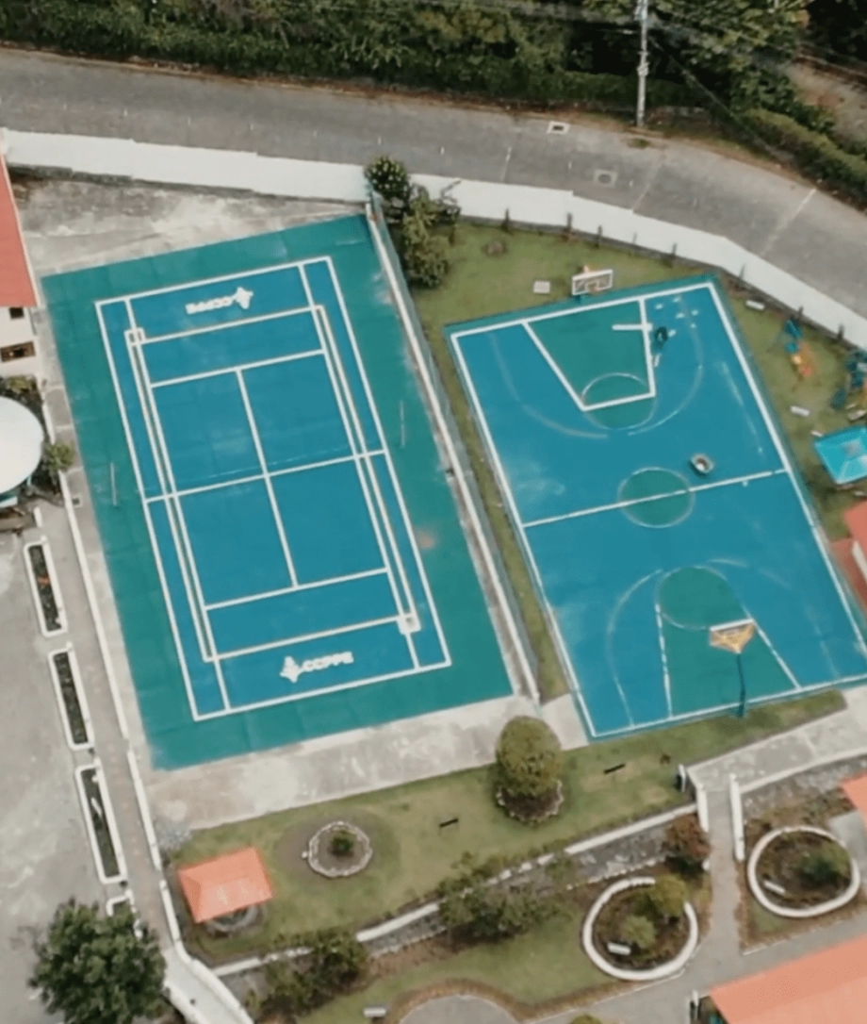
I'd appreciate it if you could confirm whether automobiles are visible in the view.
No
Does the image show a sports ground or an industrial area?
sports ground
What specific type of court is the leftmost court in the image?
tennis court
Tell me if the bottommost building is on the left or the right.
right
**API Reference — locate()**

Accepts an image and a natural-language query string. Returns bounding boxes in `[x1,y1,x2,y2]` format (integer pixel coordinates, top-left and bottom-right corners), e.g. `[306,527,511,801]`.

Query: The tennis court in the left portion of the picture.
[43,213,512,770]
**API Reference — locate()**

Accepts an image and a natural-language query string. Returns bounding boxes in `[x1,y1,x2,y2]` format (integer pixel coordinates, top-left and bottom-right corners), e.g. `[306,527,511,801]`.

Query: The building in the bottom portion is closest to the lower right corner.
[707,931,867,1024]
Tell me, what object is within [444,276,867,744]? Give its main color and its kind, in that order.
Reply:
blue basketball court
